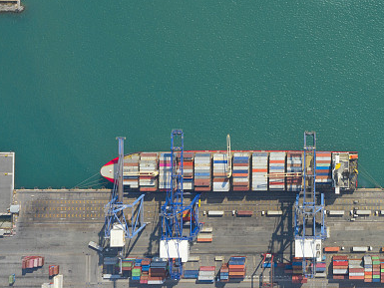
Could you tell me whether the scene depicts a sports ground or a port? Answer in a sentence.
The area seen from above is a port.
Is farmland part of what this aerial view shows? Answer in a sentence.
No, the picture contains no farmland.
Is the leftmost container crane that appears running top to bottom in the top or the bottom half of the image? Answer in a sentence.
Seen from above, the leftmost container crane that appears running top to bottom lies in the bottom half of the view.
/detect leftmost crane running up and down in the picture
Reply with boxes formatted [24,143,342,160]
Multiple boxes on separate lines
[104,134,152,273]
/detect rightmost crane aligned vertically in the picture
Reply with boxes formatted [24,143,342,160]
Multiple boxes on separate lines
[292,128,326,282]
